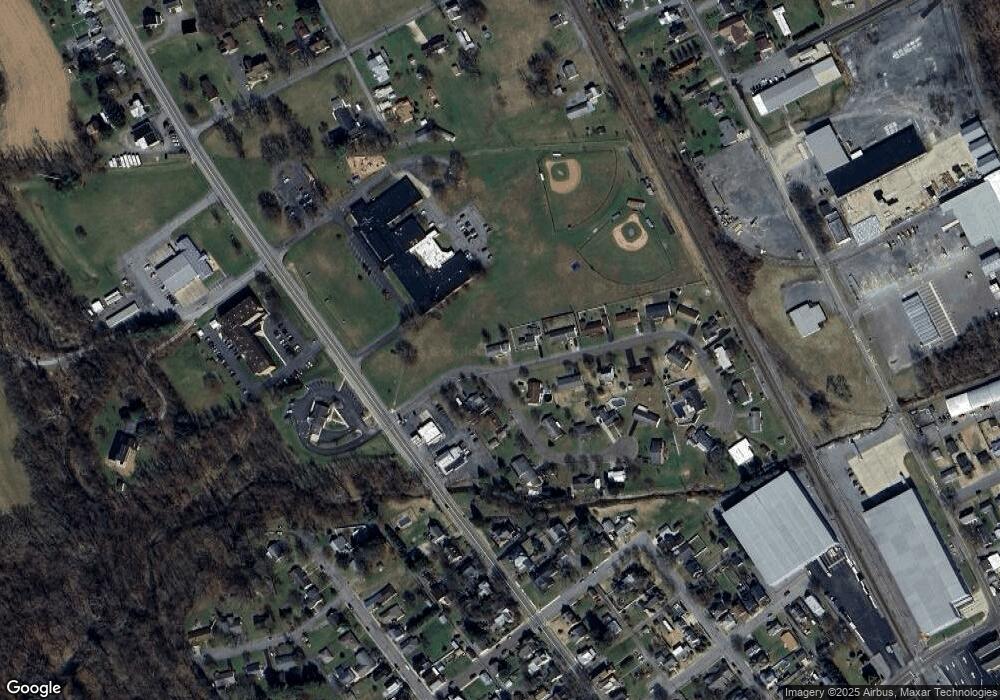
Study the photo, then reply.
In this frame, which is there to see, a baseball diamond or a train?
baseball diamond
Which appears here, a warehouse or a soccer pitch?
warehouse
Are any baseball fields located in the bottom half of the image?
No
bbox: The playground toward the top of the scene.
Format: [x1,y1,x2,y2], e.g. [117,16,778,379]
[347,155,387,179]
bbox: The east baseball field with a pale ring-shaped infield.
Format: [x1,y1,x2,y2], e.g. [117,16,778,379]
[613,213,648,250]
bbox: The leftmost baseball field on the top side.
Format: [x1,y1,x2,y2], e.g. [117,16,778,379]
[545,159,581,193]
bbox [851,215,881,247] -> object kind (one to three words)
shed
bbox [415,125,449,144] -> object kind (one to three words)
house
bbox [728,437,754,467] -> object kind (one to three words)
hangar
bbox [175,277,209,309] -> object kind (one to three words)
building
